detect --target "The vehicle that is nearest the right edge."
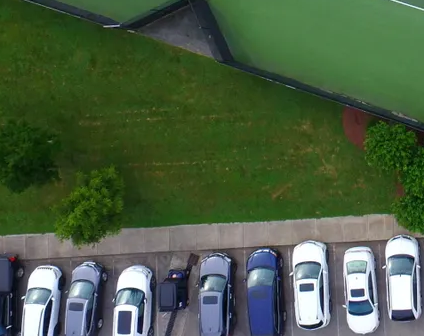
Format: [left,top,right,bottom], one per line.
[382,233,423,325]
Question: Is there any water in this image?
No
